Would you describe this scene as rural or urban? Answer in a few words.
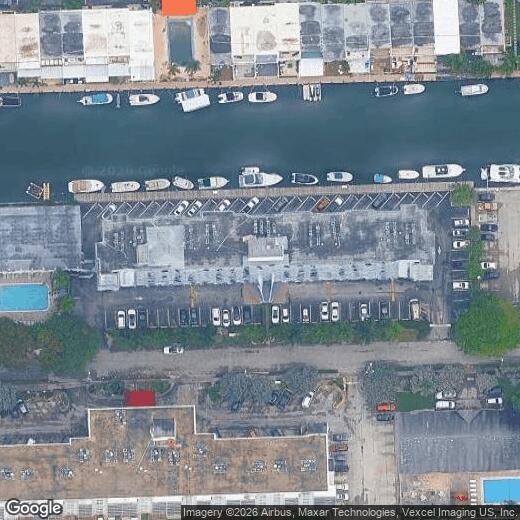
urban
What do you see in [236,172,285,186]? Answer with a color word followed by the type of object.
white boat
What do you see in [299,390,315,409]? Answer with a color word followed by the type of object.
white car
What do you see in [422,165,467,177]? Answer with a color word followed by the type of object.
white boat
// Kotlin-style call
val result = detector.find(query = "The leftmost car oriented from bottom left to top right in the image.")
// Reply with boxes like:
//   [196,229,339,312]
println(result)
[100,201,117,217]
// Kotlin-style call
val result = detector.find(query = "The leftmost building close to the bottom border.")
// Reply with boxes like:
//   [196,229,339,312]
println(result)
[0,405,335,519]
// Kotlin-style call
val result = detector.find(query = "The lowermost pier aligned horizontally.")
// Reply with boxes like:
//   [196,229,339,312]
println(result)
[74,181,474,202]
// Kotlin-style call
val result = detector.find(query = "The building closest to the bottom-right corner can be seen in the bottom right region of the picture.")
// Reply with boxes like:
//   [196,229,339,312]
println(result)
[397,410,520,470]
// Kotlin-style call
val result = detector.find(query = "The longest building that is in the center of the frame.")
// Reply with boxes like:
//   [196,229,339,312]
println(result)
[97,204,434,307]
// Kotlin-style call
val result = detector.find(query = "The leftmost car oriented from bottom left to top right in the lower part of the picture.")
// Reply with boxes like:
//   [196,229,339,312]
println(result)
[228,397,245,415]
